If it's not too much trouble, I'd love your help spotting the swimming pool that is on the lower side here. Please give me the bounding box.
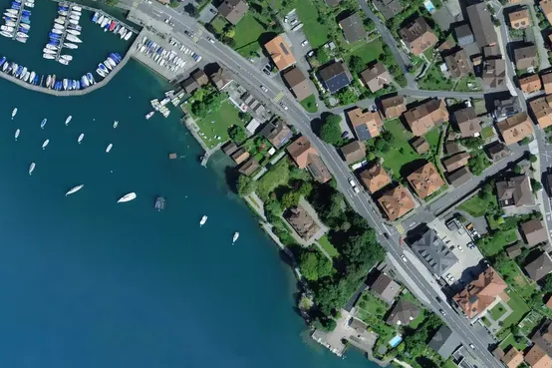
[386,333,405,350]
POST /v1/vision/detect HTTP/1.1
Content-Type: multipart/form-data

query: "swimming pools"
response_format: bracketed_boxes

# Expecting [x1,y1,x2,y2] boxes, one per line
[422,0,436,15]
[386,333,405,350]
